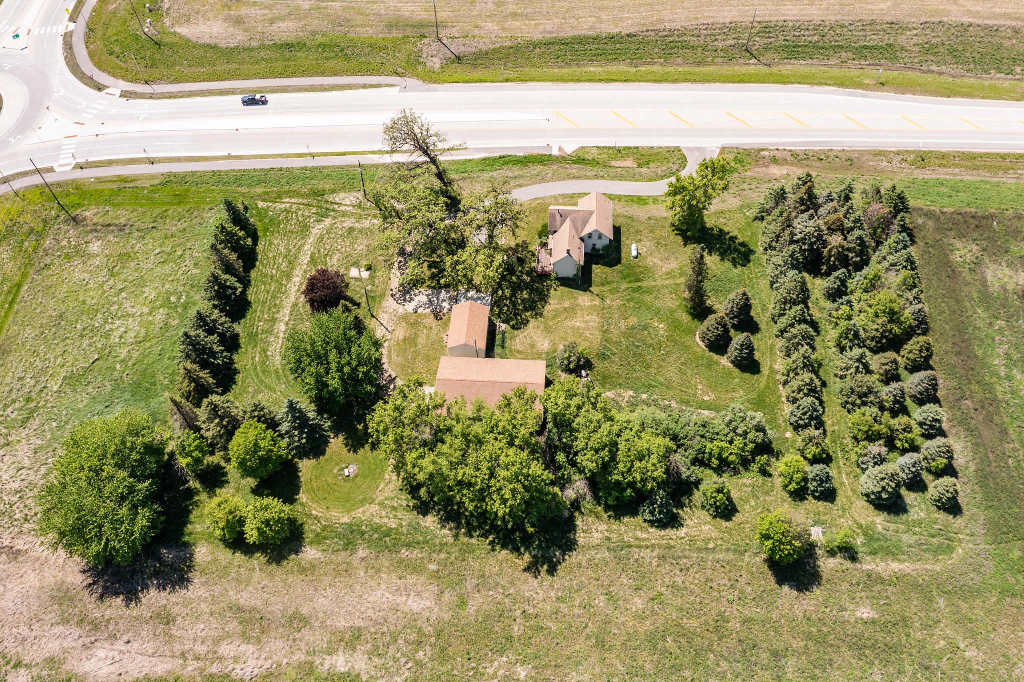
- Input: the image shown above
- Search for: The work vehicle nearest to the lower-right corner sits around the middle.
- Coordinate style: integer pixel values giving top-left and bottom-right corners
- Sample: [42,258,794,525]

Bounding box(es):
[577,363,593,382]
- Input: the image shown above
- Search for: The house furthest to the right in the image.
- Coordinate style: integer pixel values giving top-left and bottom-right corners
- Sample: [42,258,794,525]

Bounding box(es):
[533,190,613,282]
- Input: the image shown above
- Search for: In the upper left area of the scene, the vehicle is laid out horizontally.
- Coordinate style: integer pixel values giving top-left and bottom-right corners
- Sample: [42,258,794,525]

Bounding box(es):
[240,94,269,106]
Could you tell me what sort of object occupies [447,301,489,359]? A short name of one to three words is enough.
building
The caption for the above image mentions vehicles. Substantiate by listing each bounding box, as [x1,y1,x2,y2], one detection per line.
[240,94,269,106]
[577,363,593,382]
